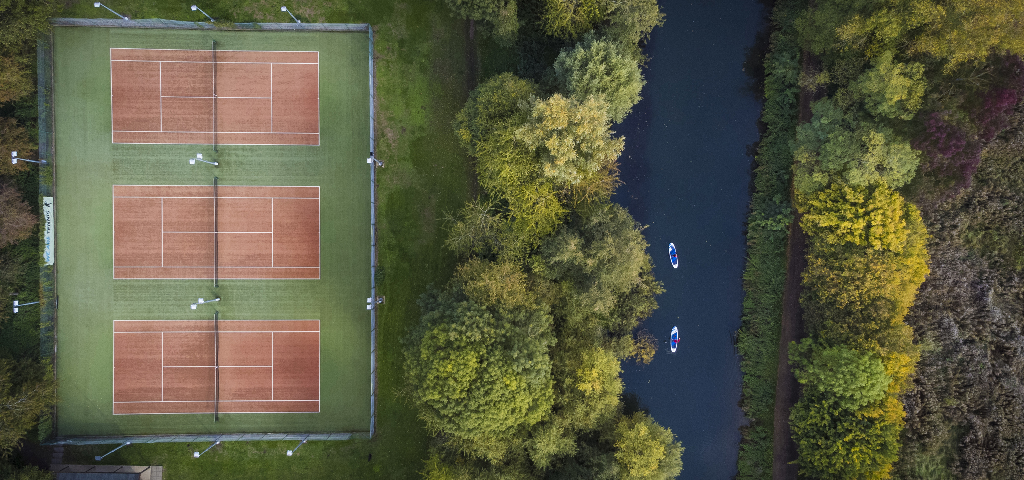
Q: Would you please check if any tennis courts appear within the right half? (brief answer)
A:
No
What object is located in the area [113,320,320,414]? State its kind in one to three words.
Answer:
tennis court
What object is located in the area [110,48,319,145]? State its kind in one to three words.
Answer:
tennis court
